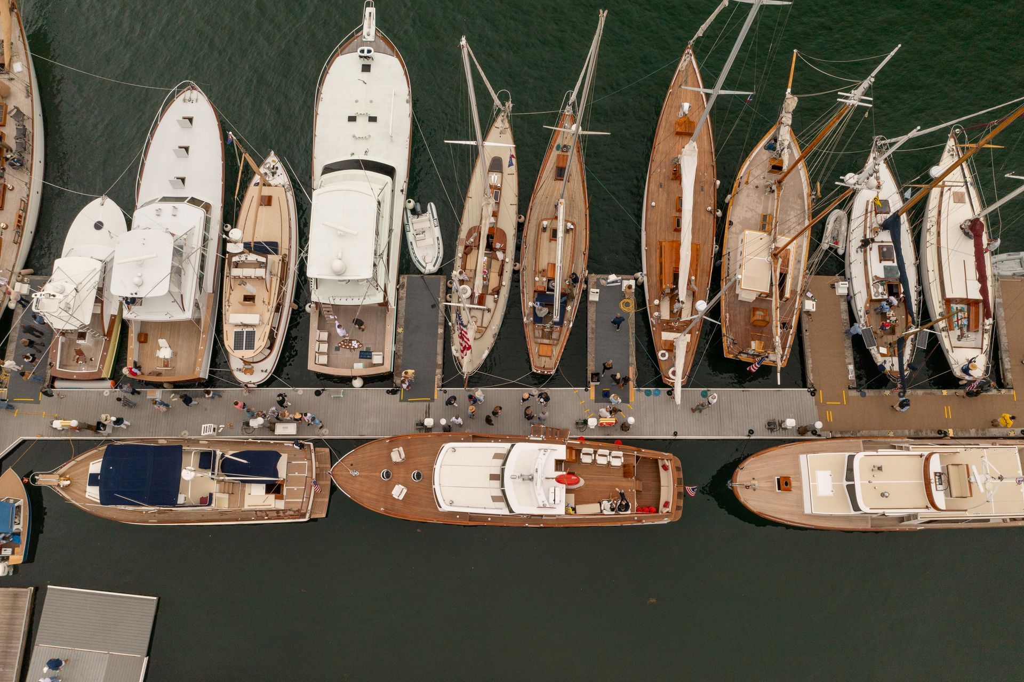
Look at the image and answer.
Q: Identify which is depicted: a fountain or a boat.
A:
boat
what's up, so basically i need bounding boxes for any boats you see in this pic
[222,130,313,387]
[520,0,611,375]
[842,95,1024,393]
[21,439,331,525]
[642,0,792,408]
[405,195,444,274]
[284,0,412,382]
[111,80,232,386]
[331,432,686,527]
[821,208,849,253]
[0,194,128,381]
[0,0,51,341]
[716,44,922,385]
[992,250,1024,277]
[443,30,518,388]
[730,437,1024,531]
[915,113,1024,379]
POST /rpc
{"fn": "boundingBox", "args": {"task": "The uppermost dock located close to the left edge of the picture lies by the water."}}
[2,275,54,388]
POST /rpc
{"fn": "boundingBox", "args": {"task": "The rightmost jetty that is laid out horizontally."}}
[819,389,1024,437]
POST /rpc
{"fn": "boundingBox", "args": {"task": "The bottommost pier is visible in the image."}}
[26,644,152,682]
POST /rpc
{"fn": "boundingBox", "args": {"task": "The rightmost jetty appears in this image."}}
[993,276,1024,389]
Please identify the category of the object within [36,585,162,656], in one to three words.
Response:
pier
